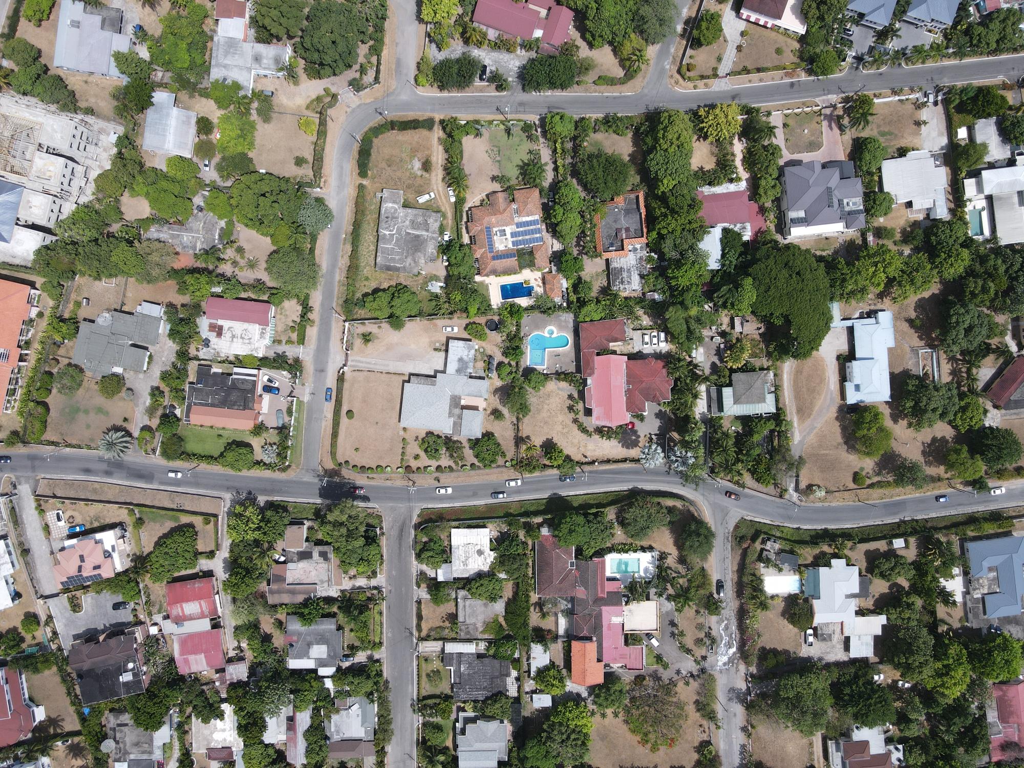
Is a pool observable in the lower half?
Yes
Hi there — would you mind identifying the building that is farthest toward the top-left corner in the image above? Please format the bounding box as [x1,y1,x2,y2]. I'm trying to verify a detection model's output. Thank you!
[54,0,136,80]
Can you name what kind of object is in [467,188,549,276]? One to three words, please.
house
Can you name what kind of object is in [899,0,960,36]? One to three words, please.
house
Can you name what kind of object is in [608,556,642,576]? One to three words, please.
swimming pool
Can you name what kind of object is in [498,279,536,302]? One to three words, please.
swimming pool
